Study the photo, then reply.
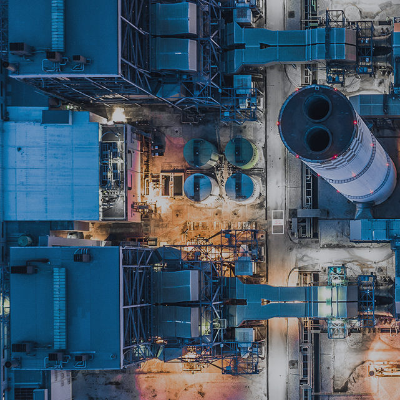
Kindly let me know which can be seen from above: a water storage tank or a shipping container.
water storage tank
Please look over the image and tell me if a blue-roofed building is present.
Yes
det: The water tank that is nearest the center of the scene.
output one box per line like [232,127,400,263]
[184,171,219,204]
